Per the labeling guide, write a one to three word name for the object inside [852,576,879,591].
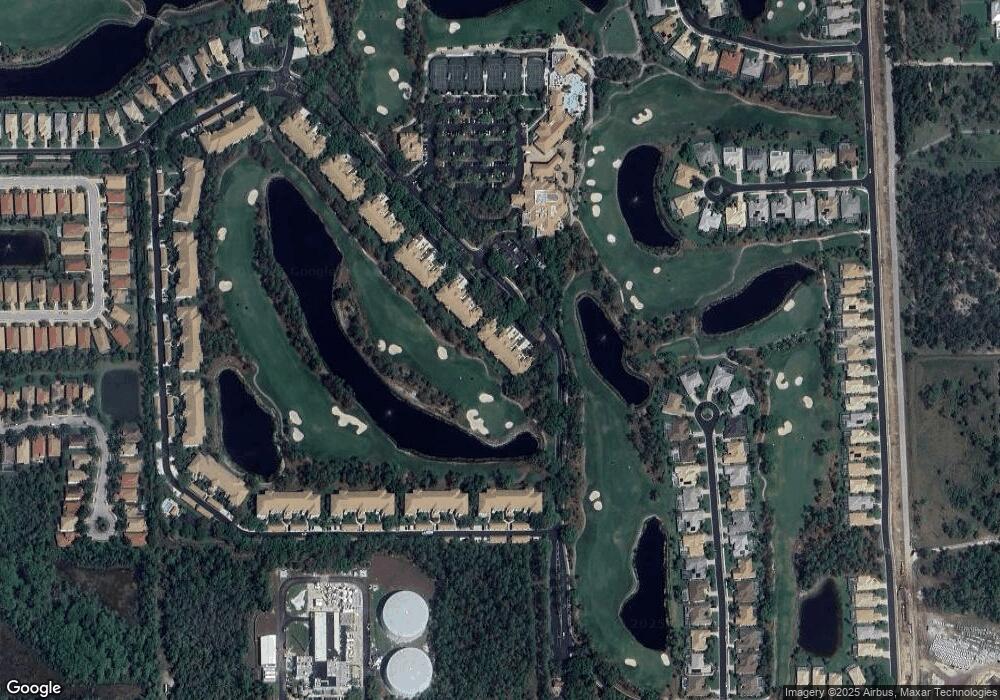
house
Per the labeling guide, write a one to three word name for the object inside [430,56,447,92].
tennis court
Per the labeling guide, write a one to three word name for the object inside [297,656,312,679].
building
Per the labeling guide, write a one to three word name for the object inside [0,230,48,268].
pond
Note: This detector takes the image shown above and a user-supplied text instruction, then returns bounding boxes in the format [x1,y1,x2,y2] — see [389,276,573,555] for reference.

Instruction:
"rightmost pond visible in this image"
[797,578,842,655]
